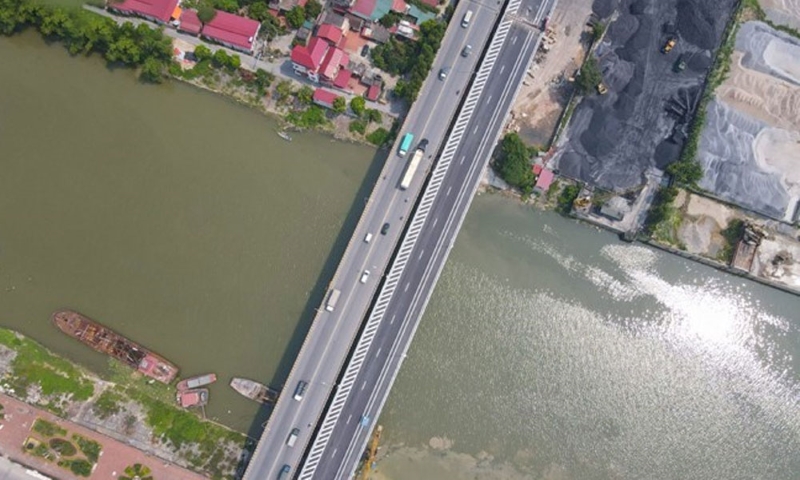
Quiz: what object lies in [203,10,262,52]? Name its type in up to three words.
building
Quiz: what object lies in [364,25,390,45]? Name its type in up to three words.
house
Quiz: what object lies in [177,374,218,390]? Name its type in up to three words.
boat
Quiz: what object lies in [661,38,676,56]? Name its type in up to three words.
work vehicle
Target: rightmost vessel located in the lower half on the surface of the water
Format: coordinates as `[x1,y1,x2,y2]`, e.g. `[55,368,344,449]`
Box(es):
[230,379,279,406]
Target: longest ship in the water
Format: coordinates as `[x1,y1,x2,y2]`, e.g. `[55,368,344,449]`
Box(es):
[55,313,178,386]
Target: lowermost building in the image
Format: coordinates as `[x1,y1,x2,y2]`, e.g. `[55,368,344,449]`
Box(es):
[600,195,630,220]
